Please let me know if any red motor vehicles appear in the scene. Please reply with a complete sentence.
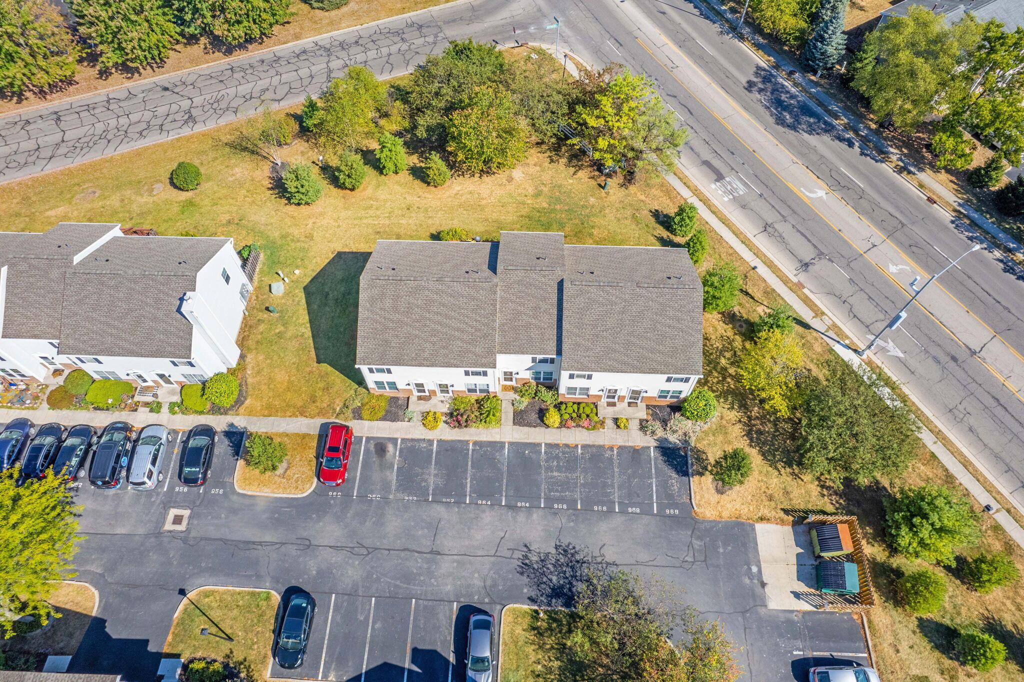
Yes, there is a red motor vehicle in the image.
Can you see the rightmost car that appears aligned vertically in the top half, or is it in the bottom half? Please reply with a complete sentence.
You can find the rightmost car that appears aligned vertically in the bottom half.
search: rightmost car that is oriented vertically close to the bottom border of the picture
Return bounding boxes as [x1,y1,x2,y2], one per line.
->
[464,613,498,682]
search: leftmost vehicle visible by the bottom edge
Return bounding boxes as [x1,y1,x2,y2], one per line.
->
[274,594,316,674]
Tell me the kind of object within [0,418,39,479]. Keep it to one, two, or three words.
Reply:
car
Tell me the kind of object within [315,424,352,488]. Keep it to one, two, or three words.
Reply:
car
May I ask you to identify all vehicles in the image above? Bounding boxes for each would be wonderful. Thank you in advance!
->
[18,422,67,486]
[315,424,352,488]
[807,666,883,682]
[85,423,136,491]
[178,426,220,491]
[53,422,98,482]
[0,418,39,479]
[125,427,172,491]
[464,613,498,682]
[274,594,316,674]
